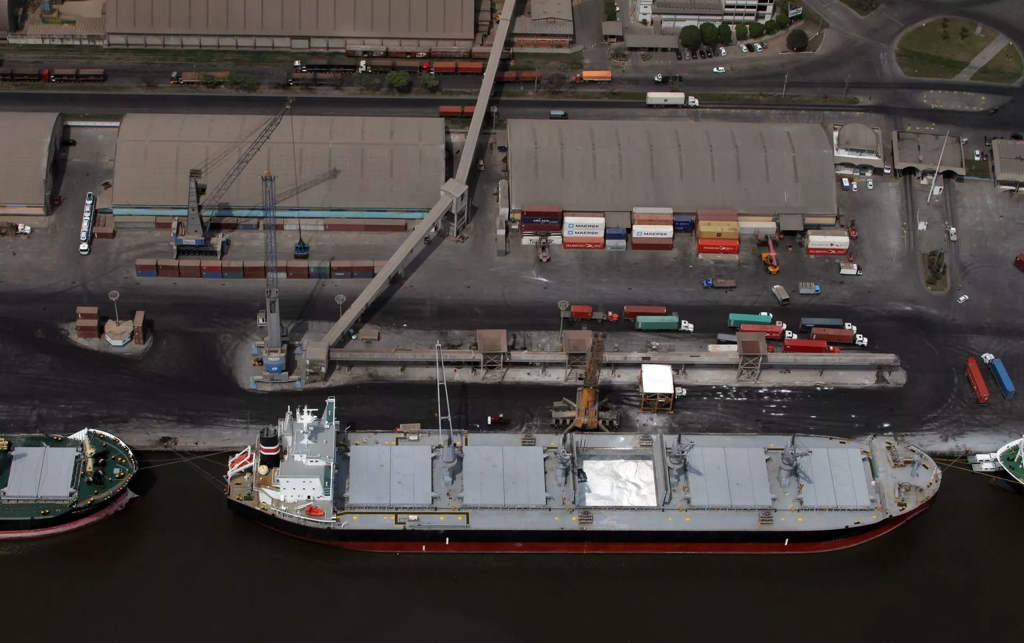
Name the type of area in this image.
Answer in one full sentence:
The picture captures a port.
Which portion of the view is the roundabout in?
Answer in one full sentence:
The roundabout appears toward the top right of the photo.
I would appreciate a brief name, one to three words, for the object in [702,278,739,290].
vehicle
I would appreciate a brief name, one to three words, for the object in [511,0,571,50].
building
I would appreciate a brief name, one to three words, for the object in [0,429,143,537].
ship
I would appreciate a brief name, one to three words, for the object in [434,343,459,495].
crane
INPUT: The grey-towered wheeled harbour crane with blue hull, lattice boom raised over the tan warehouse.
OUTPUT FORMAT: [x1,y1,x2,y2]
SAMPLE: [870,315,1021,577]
[167,98,293,259]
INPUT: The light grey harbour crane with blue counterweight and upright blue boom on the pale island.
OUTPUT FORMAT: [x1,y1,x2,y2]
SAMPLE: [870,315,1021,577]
[249,170,303,384]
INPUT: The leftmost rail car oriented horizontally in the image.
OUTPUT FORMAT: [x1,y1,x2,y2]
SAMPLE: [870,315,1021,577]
[343,45,383,59]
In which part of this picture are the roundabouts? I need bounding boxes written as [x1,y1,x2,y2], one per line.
[896,15,1024,83]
